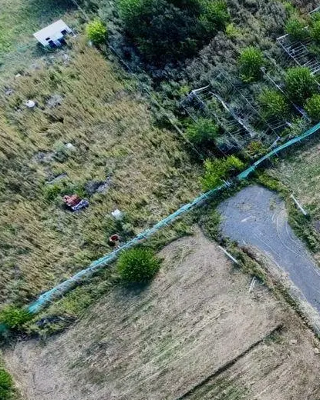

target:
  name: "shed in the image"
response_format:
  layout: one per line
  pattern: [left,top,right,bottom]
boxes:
[30,18,80,52]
